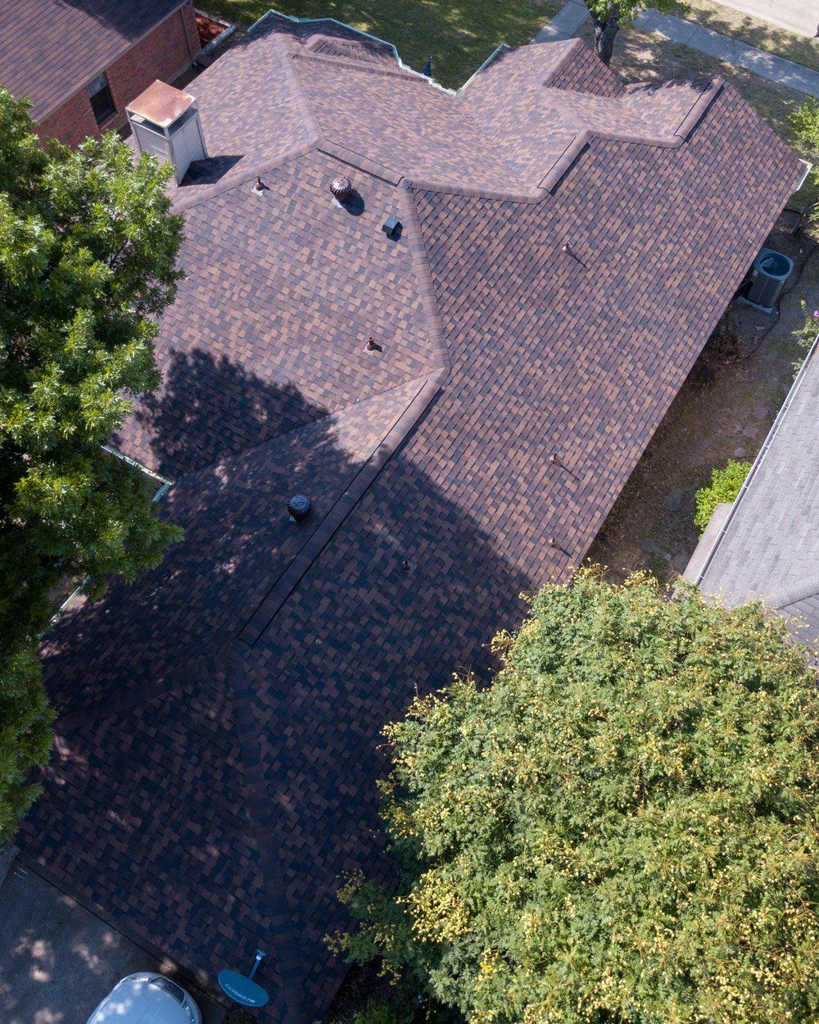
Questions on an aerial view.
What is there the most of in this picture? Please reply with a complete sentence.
The bulk of the photo consists of buildings.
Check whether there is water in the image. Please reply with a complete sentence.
No, the scene doesn't show any water.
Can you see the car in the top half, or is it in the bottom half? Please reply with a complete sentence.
The car is in the bottom half of the image.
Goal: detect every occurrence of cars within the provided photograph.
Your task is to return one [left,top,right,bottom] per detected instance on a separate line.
[83,970,202,1024]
